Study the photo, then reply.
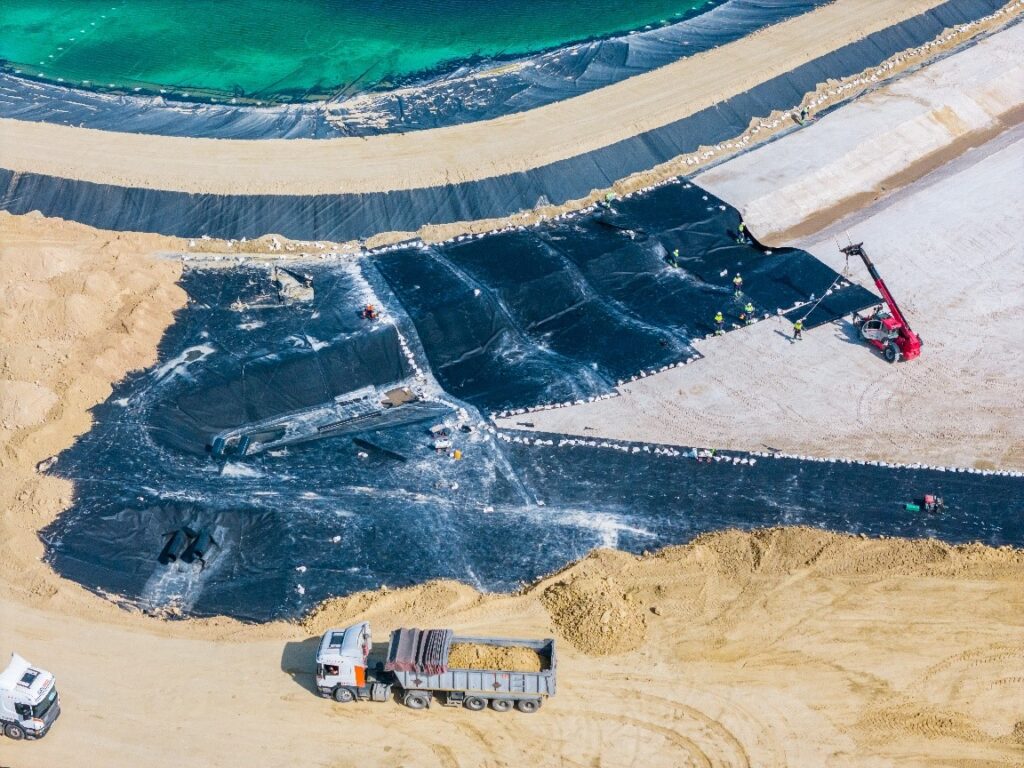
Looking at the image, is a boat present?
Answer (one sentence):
No, no boat is visible in the view.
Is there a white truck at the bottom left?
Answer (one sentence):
Yes, a white truck is visible at the bottom left.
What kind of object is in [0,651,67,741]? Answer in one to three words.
truck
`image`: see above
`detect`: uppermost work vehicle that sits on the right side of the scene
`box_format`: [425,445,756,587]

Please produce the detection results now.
[844,233,921,362]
